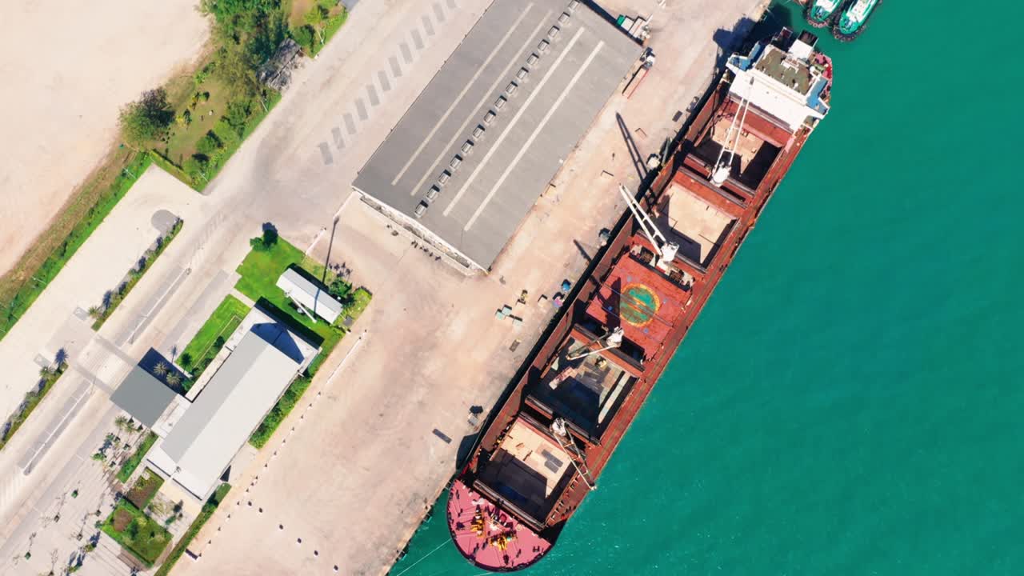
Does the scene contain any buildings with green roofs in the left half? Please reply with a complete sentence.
No, looking in the left half, there is no building with a green roof.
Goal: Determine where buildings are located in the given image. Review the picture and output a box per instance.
[352,0,643,278]
[257,39,304,91]
[277,269,345,323]
[110,309,320,522]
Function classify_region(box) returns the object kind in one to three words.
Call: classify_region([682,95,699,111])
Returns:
vehicle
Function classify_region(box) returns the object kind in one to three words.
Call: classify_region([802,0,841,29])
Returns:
boat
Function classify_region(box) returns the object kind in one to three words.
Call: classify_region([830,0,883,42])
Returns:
boat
